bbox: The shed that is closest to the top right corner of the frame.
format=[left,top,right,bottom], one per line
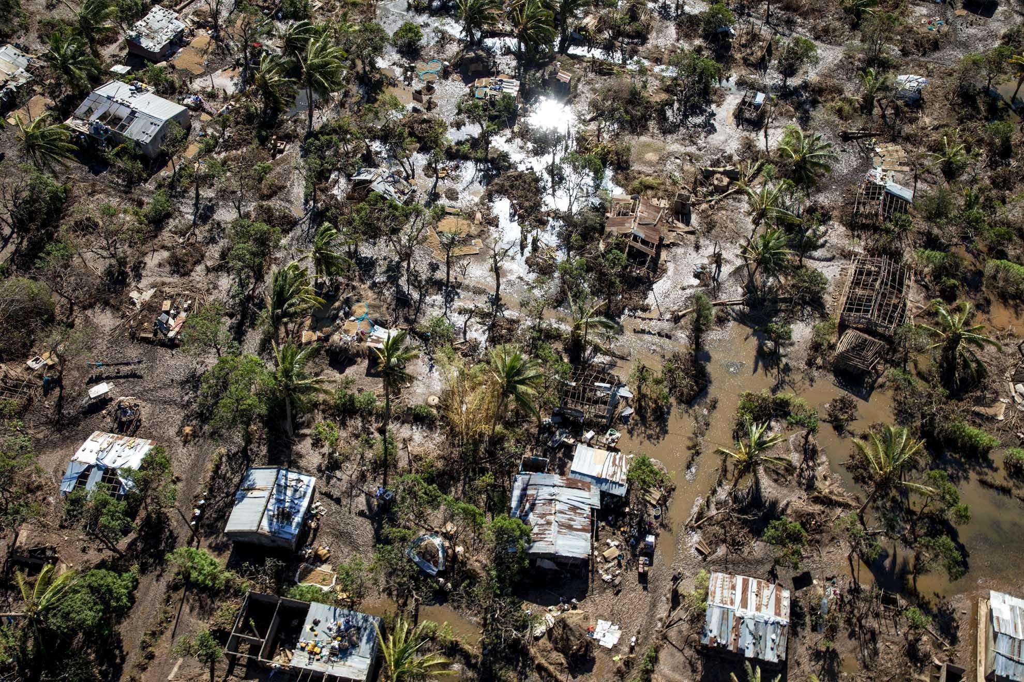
[895,75,928,107]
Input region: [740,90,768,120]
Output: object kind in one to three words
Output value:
shed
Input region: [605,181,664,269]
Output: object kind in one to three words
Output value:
house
